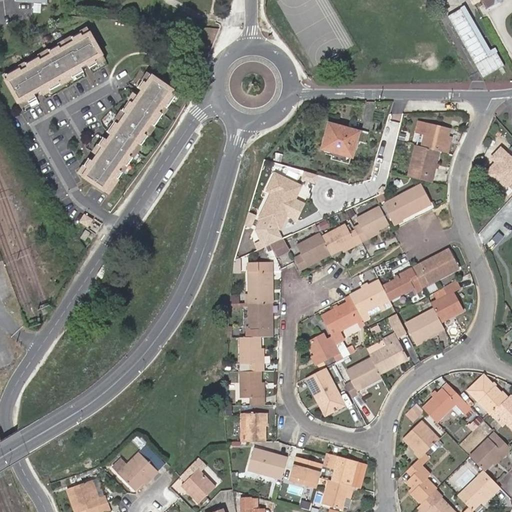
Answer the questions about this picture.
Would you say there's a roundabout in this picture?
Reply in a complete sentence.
Yes, this view includes a roundabout.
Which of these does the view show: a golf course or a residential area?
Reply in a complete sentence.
The picture captures a residential area.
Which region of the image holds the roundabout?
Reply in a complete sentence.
The roundabout is located in the top region of the scene.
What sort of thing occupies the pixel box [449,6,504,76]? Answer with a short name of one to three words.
shed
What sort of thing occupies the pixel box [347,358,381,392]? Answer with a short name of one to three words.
house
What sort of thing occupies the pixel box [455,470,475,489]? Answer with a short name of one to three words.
swimming pool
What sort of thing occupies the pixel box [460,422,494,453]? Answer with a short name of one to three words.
building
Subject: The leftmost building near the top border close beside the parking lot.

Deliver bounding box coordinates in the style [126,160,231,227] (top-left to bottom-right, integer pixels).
[3,24,104,104]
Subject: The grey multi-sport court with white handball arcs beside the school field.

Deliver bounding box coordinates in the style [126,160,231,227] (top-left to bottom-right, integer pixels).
[277,0,344,66]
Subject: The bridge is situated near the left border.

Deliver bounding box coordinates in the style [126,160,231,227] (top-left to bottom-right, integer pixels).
[0,428,32,472]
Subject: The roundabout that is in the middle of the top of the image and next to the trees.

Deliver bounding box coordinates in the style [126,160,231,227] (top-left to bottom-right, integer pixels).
[224,56,283,114]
